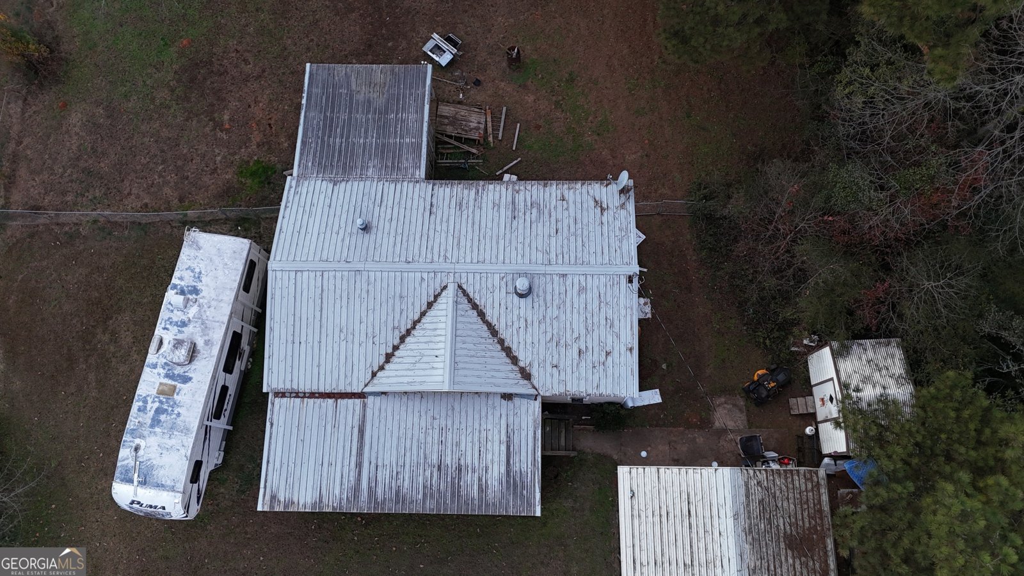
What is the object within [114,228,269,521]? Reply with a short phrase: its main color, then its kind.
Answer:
white trailer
